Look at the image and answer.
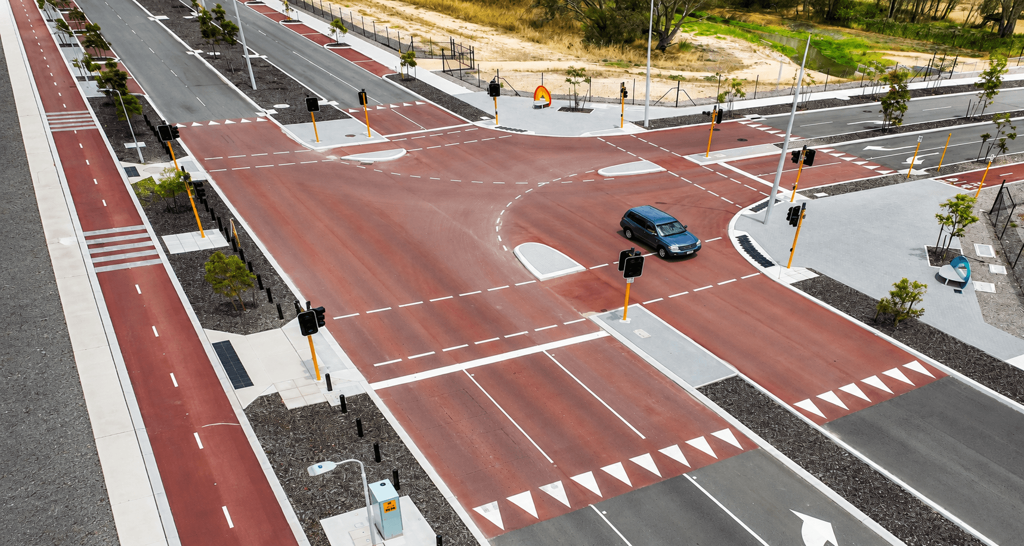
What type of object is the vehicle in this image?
automobile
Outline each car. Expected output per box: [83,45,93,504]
[621,202,702,259]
